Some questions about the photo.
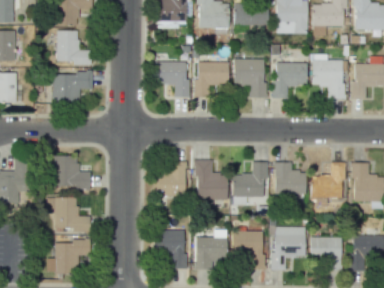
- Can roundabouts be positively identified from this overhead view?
No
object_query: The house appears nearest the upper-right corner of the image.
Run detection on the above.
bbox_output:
[350,0,384,31]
